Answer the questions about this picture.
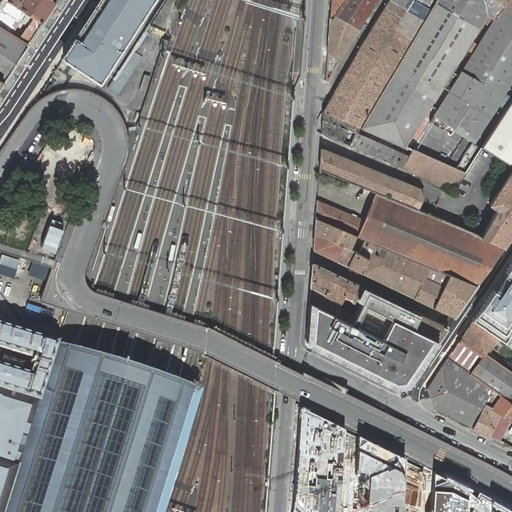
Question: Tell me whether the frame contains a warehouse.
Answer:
Yes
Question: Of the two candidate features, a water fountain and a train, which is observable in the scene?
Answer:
train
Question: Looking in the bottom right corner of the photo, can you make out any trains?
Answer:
No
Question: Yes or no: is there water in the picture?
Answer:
No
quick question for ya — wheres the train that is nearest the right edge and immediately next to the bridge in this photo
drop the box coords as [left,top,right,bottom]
[164,234,188,314]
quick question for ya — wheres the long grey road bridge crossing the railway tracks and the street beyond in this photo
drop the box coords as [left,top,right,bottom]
[70,288,512,508]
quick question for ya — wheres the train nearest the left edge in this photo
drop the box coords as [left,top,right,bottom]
[138,238,159,304]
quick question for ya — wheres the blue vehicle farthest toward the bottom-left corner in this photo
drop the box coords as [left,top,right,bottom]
[24,302,52,316]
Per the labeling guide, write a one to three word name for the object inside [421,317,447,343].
shed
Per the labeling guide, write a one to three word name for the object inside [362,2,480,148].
warehouse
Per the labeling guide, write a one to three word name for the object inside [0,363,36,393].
building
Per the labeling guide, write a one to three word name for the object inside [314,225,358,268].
house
